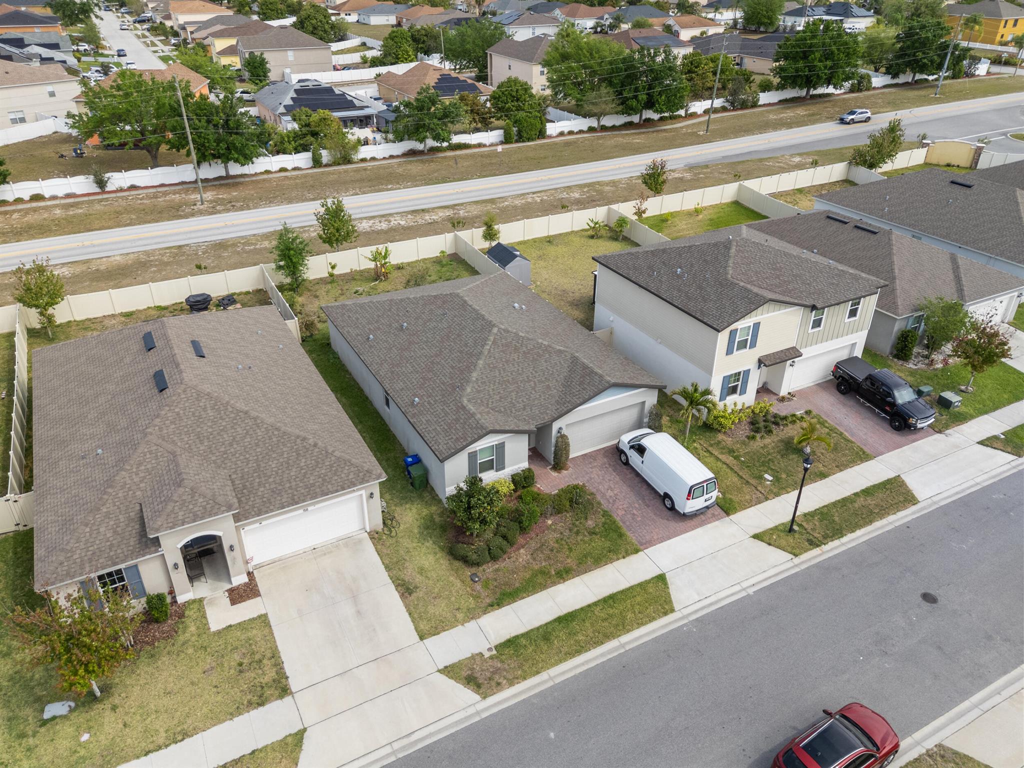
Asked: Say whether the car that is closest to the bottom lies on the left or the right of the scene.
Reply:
right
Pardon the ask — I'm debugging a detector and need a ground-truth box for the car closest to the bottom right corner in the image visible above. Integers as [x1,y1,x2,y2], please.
[763,700,902,768]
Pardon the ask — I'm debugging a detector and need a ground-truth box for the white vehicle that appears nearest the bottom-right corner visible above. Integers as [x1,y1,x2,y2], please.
[612,431,727,518]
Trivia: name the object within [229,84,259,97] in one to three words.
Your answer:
vehicle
